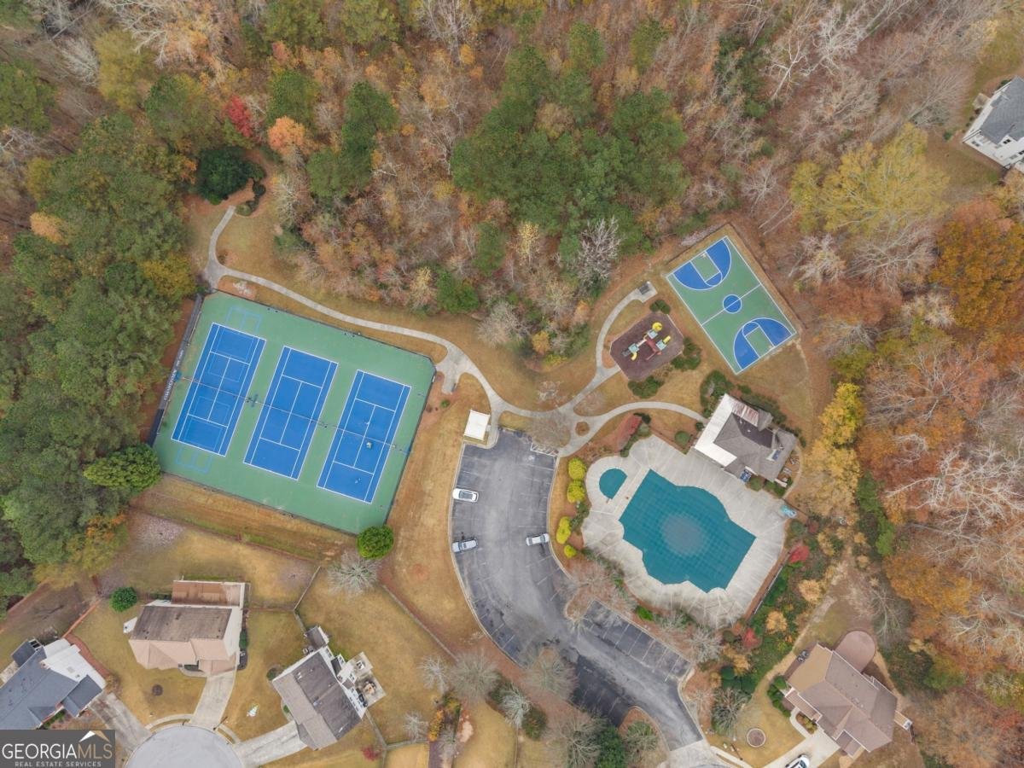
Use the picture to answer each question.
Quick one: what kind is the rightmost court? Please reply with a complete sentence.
Specifically, the rightmost court is a basketball court.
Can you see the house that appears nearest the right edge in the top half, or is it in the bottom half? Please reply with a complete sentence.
You can find the house that appears nearest the right edge in the top half.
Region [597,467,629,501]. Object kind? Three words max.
swimming pool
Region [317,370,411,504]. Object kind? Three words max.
tennis court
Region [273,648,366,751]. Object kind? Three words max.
house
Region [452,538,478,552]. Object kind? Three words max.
car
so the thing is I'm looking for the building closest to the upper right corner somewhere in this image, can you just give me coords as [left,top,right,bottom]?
[964,77,1024,173]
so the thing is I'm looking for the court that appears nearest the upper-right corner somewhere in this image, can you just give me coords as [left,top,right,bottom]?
[665,234,798,376]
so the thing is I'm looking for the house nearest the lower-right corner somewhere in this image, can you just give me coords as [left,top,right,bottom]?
[782,643,917,758]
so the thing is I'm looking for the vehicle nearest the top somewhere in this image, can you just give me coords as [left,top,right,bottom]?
[453,488,478,502]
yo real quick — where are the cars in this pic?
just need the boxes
[786,754,812,768]
[453,488,478,502]
[452,538,478,552]
[525,533,550,546]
